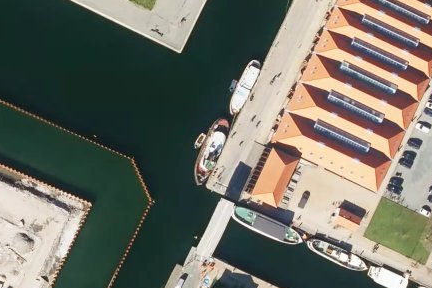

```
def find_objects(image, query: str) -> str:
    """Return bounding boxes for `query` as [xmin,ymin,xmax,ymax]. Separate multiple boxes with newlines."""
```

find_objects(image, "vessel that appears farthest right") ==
[369,266,408,288]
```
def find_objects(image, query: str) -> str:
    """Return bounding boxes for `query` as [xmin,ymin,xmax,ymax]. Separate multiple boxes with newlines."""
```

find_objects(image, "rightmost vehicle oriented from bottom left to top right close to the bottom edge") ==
[174,274,187,288]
